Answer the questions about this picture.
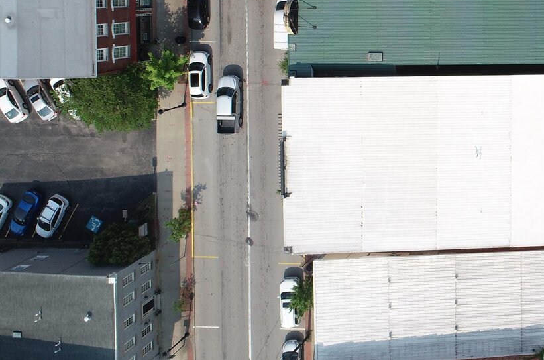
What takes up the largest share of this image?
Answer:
buildings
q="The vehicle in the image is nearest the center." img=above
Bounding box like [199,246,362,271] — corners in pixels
[217,75,245,134]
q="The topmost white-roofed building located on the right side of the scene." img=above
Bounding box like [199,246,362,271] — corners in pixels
[275,70,544,255]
